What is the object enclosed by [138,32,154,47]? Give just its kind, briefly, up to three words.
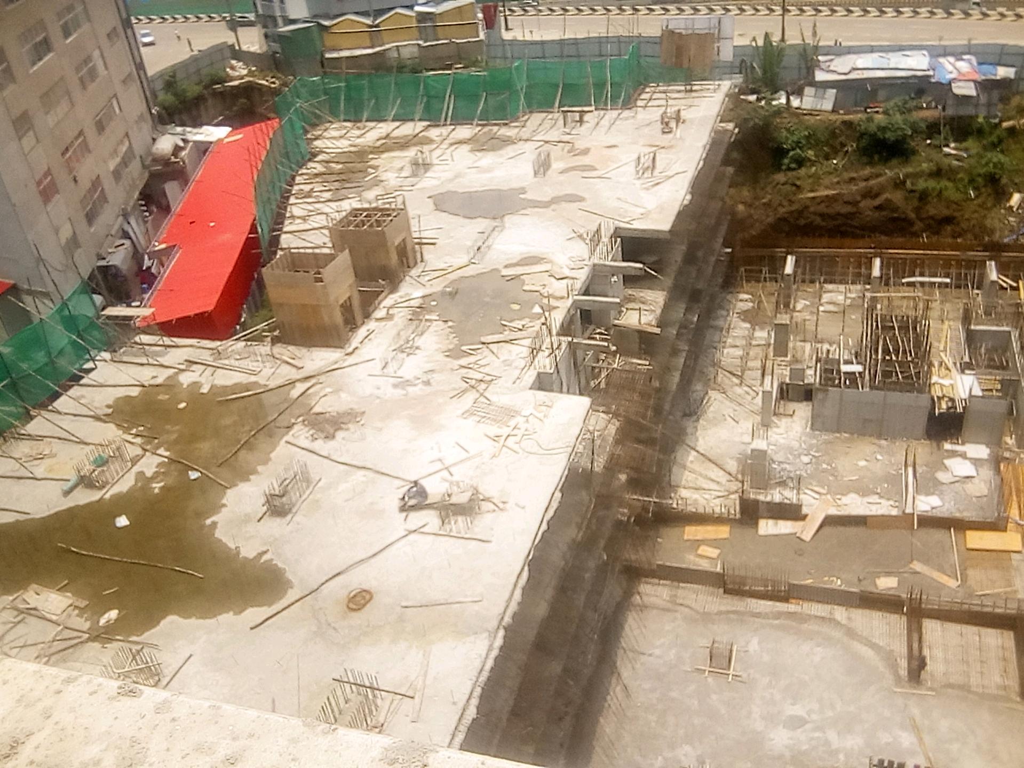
car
